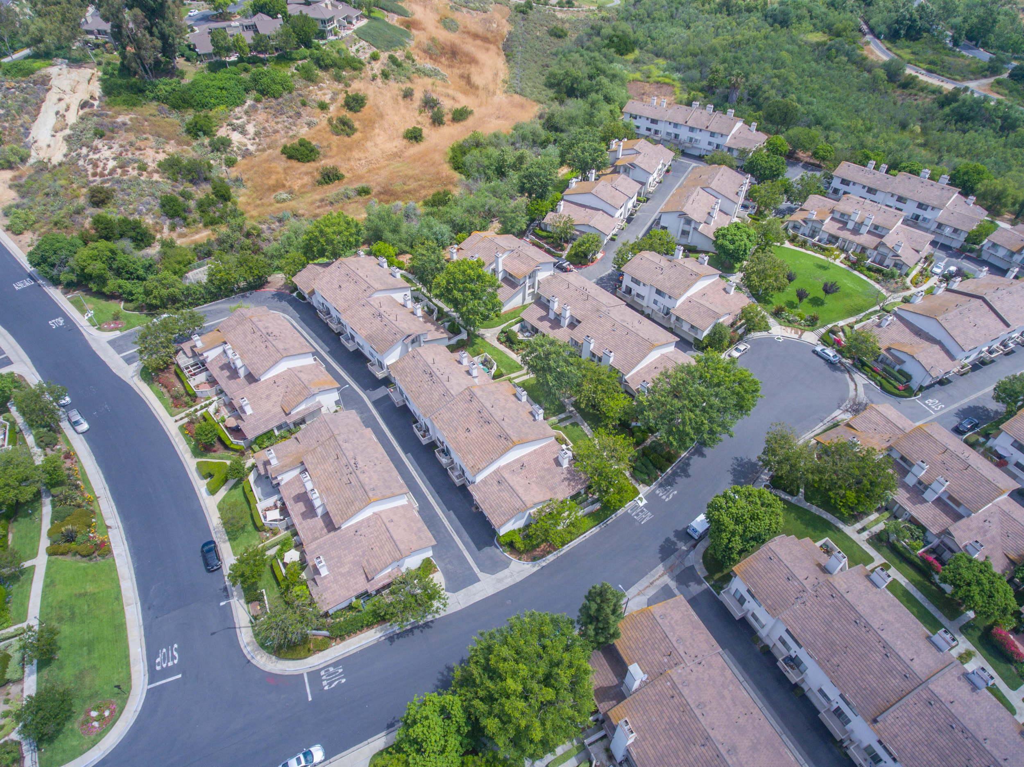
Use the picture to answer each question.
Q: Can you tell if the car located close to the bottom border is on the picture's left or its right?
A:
left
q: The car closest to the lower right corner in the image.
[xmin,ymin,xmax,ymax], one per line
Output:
[953,416,978,434]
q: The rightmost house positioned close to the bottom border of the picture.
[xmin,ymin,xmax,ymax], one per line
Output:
[722,537,1024,767]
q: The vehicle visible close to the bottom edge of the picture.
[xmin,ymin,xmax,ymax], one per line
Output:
[272,745,322,767]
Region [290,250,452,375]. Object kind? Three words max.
house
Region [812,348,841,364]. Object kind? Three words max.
car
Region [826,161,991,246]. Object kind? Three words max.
house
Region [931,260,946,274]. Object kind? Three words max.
car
